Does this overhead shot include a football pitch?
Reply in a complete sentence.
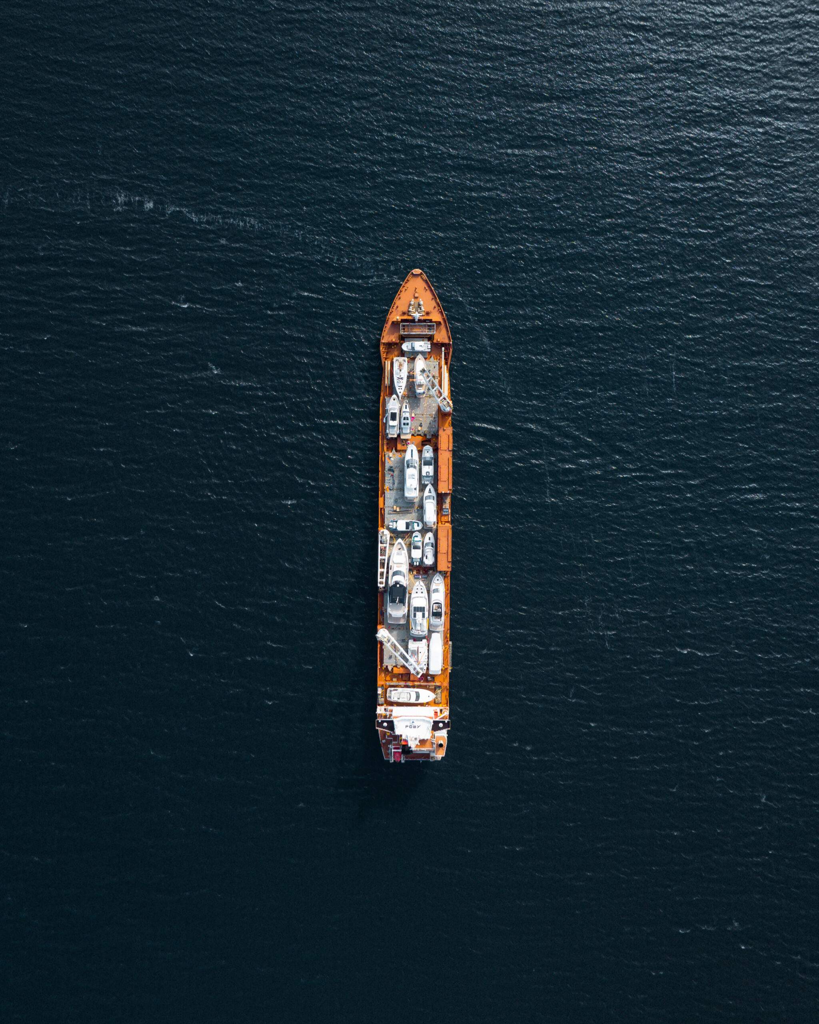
No, I find no football pitch anywhere in the image.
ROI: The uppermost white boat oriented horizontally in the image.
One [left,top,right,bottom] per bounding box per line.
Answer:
[402,341,431,354]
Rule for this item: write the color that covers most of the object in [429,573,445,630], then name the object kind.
white boat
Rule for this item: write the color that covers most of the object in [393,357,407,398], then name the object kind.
white boat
